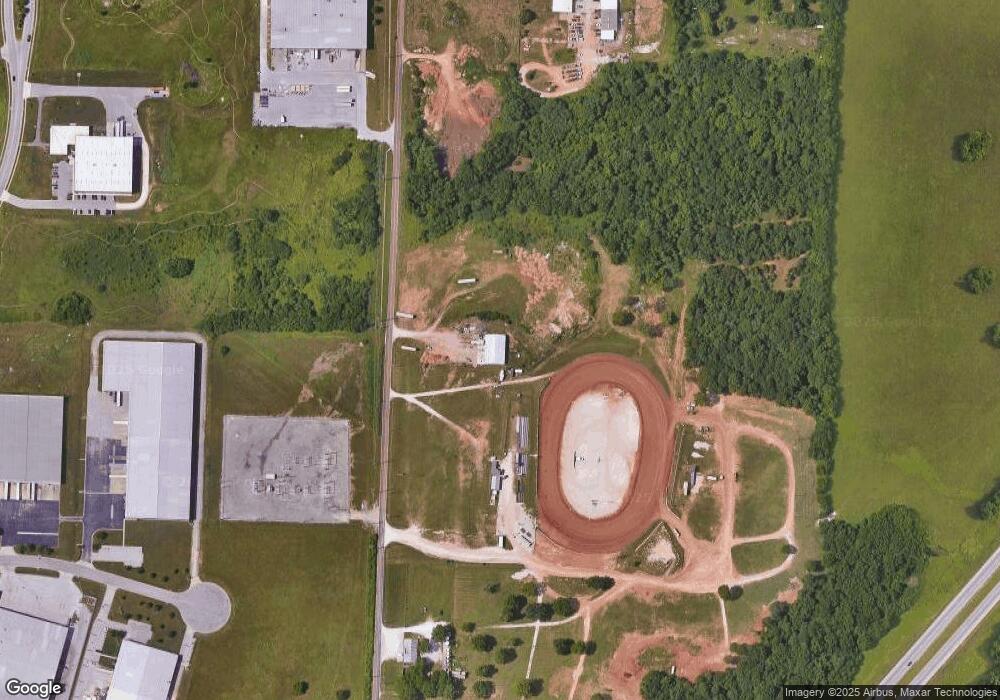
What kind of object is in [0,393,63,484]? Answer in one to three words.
building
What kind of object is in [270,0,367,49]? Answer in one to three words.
building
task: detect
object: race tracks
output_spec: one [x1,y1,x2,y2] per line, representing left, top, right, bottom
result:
[537,351,674,556]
